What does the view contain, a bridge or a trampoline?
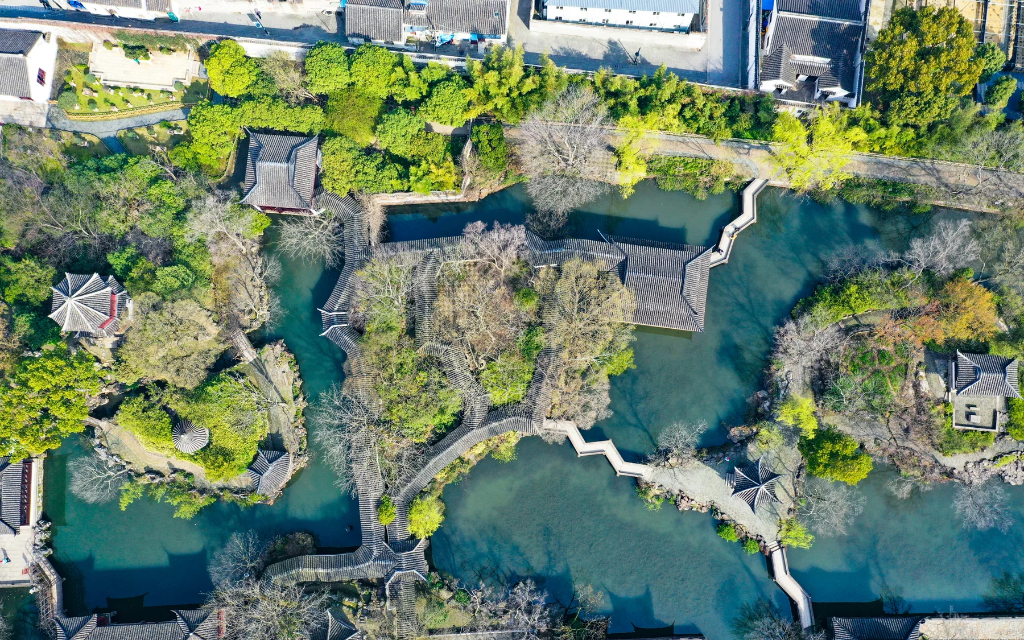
bridge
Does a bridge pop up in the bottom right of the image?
Yes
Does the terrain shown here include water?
Yes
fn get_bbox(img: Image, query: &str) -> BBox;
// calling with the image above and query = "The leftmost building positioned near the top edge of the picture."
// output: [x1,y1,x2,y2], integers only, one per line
[0,29,54,105]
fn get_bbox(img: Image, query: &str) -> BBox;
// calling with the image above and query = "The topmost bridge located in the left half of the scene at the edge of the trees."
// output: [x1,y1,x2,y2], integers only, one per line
[228,327,260,366]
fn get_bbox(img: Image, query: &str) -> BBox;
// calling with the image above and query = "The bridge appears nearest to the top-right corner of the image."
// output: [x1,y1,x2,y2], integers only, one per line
[712,173,768,266]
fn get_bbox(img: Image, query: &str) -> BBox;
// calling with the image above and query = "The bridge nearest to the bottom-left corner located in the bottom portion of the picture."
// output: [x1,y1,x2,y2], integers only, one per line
[34,553,72,617]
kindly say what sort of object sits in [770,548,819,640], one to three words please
bridge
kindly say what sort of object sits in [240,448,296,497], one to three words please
building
